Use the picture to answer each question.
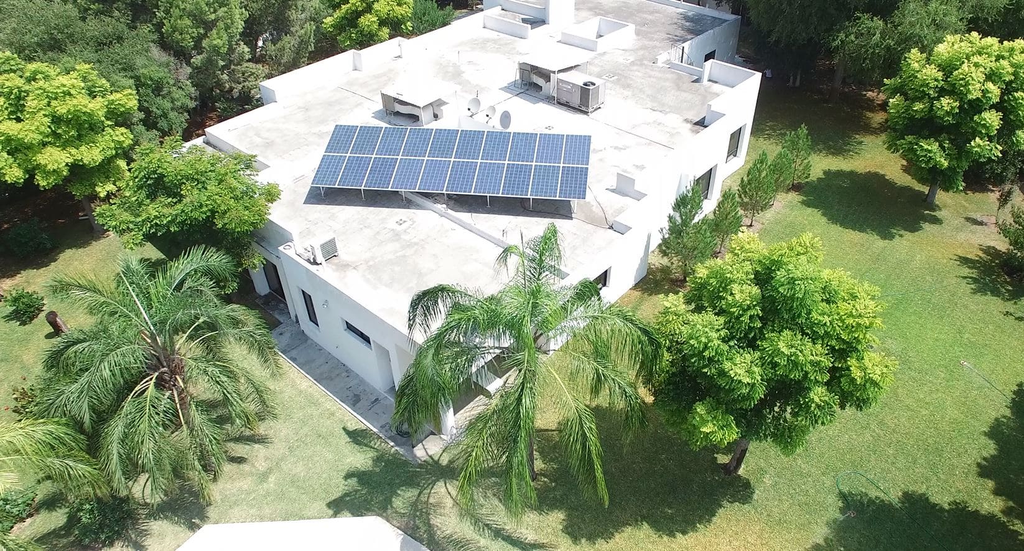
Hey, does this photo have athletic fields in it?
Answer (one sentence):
No, there isn't any athletic field down there.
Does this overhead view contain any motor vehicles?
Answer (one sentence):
No, the picture doesn't show any motor vehicle.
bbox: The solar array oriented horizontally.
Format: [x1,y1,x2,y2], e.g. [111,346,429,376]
[312,125,592,213]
